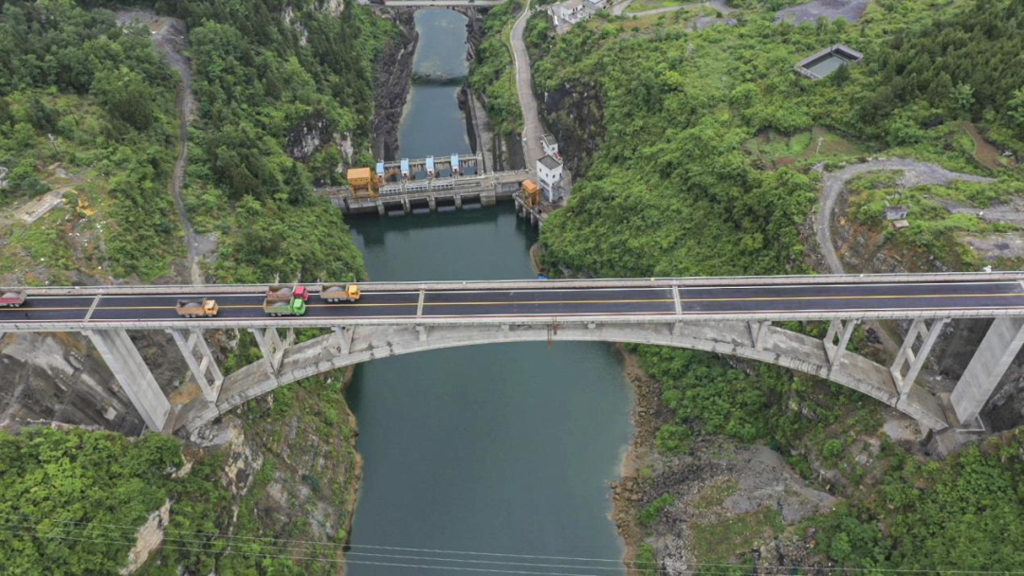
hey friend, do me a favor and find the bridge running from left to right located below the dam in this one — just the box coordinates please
[0,276,1024,457]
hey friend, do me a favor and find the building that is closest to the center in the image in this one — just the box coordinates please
[536,155,567,202]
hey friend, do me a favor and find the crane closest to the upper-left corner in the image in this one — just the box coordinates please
[346,169,403,200]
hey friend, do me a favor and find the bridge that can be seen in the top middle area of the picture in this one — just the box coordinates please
[389,1,508,28]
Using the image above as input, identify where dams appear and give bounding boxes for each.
[330,150,556,235]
